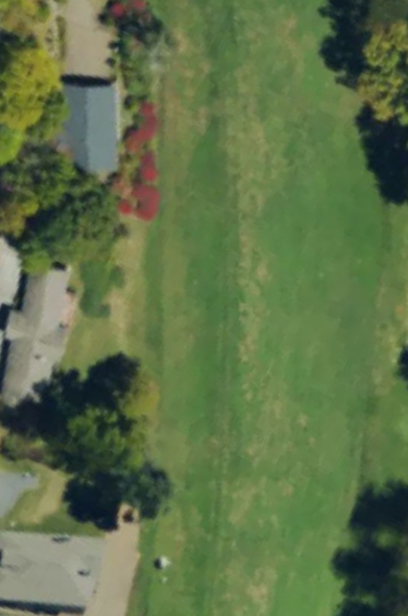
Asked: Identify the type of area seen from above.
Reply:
golf course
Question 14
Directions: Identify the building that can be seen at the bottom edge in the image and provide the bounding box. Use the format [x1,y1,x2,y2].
[0,529,106,612]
